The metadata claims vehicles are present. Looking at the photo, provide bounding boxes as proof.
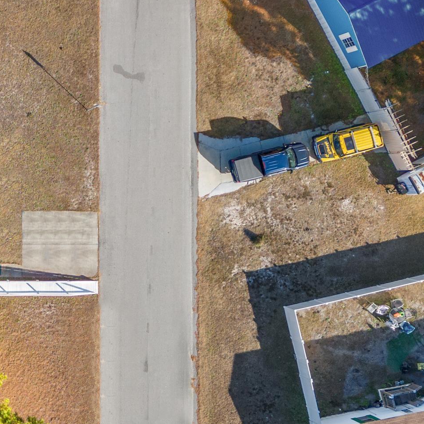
[224,143,305,182]
[310,123,382,162]
[397,164,424,198]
